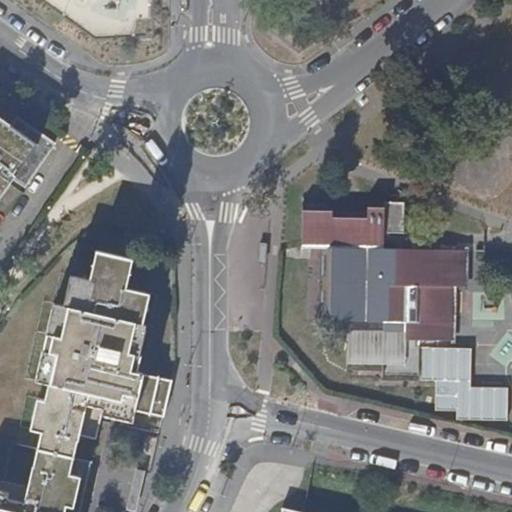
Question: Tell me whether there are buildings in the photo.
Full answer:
Yes, there's a building down there.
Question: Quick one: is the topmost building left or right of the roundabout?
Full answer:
Relative to the roundabout, the topmost building is on the left.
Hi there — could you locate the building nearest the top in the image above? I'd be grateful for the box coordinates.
[0,118,56,198]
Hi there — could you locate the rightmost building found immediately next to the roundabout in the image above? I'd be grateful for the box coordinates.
[302,207,468,374]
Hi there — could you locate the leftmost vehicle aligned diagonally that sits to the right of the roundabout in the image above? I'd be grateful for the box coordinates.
[307,53,331,72]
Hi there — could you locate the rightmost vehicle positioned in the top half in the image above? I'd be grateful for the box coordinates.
[434,14,454,30]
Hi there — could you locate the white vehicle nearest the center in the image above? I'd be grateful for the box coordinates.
[145,136,168,166]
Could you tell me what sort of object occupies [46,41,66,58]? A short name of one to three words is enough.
car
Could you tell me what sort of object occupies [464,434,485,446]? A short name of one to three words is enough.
vehicle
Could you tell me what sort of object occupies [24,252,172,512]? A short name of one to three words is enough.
building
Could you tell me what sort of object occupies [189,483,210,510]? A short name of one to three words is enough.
vehicle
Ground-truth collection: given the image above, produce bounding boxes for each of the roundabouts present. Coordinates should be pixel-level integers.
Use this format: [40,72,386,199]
[150,56,282,188]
